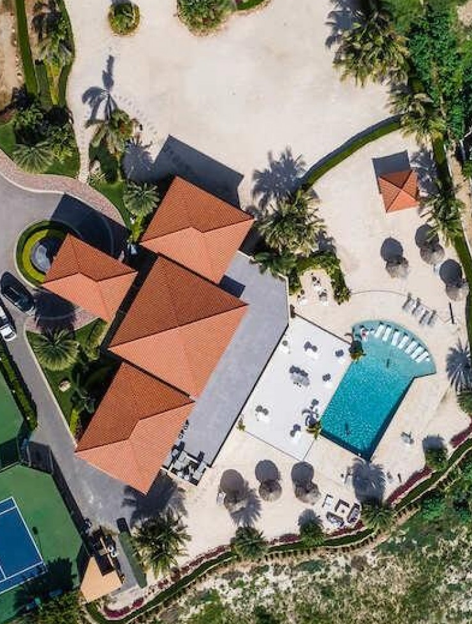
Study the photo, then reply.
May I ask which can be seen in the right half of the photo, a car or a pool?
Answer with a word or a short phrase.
pool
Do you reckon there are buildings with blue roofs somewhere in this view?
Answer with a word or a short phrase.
No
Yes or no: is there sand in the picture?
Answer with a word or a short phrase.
Yes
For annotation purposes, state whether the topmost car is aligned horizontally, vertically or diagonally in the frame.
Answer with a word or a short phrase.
diagonally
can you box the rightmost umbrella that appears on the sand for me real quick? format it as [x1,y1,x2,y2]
[445,277,467,301]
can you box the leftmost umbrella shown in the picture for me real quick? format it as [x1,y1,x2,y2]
[223,489,244,512]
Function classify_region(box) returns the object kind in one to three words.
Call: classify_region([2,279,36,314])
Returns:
car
